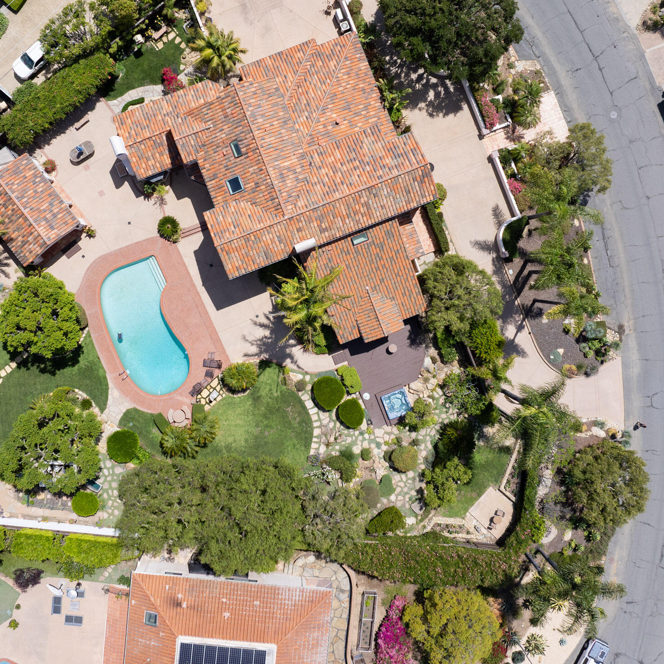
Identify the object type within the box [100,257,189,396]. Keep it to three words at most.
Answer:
swimming pool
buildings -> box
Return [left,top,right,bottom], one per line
[0,153,93,266]
[107,31,438,345]
[123,545,334,664]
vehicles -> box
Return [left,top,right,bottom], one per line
[572,633,609,664]
[14,29,58,84]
